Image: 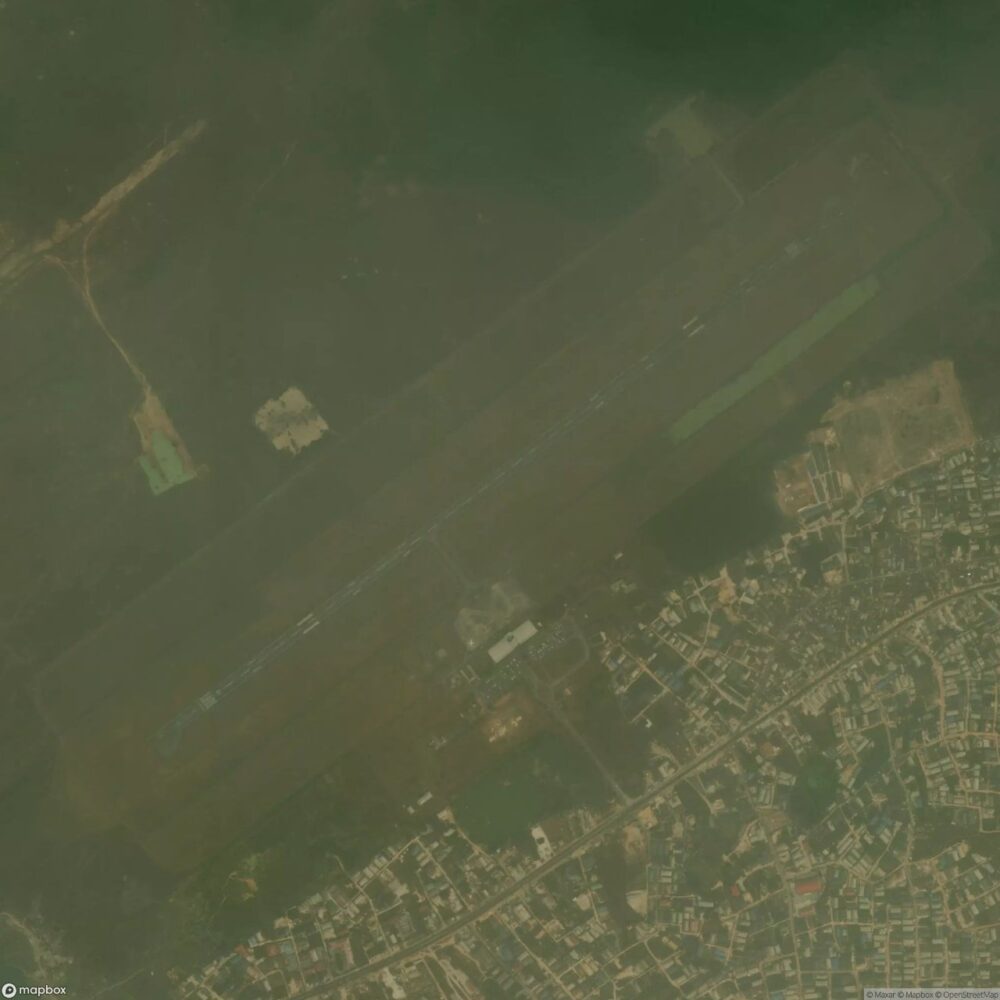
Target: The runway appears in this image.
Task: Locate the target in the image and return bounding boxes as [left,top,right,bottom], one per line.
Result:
[156,206,846,742]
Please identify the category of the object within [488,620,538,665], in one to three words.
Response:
building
